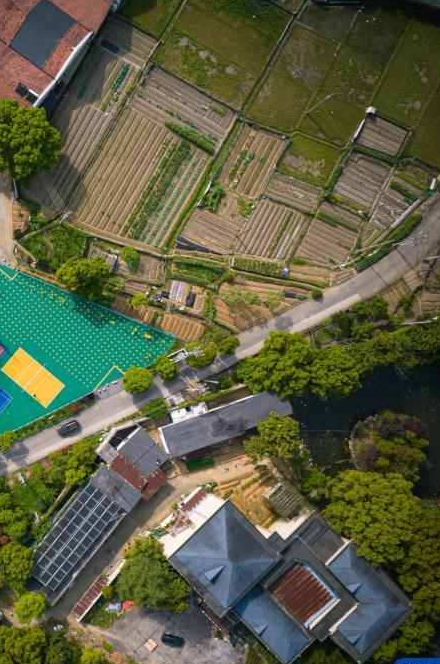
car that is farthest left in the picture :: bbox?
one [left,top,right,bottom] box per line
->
[56,419,80,435]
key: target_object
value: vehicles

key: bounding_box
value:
[161,633,185,646]
[56,419,80,435]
